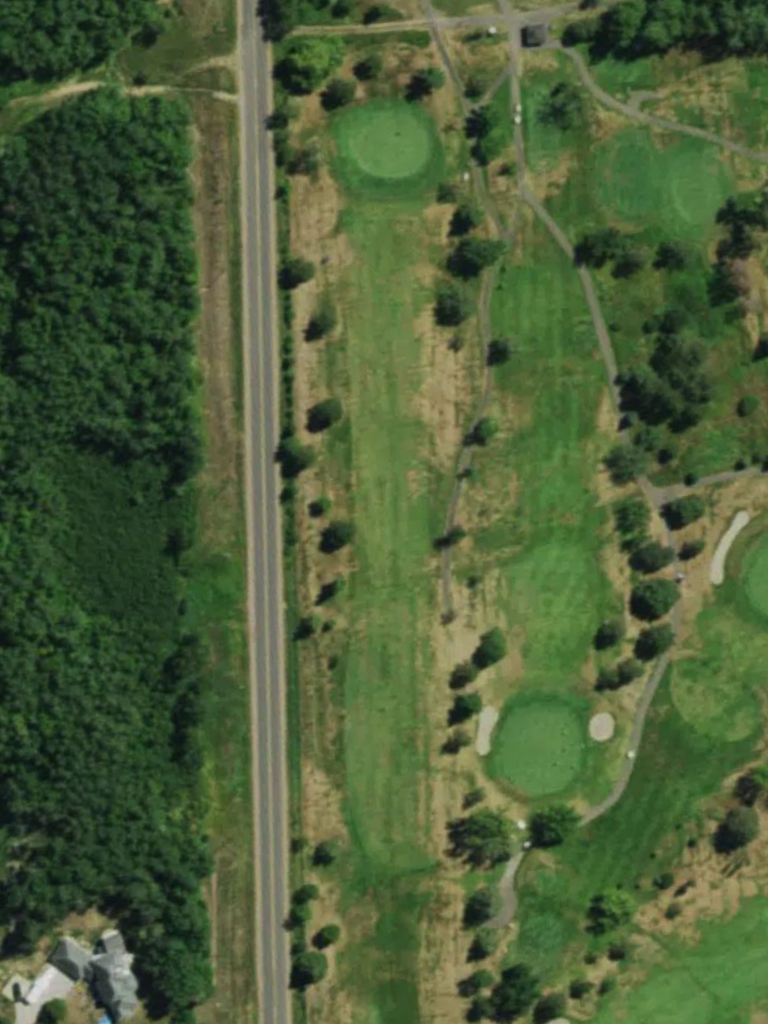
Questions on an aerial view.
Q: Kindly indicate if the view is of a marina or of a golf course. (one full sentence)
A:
The picture captures a golf course.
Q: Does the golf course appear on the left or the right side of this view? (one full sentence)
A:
You can find the golf course on the right side of the picture.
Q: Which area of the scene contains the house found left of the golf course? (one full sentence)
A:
Look in the bottom left portion of the view to spot the house found left of the golf course.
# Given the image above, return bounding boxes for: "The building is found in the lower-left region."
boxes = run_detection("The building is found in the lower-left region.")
[45,927,144,1024]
